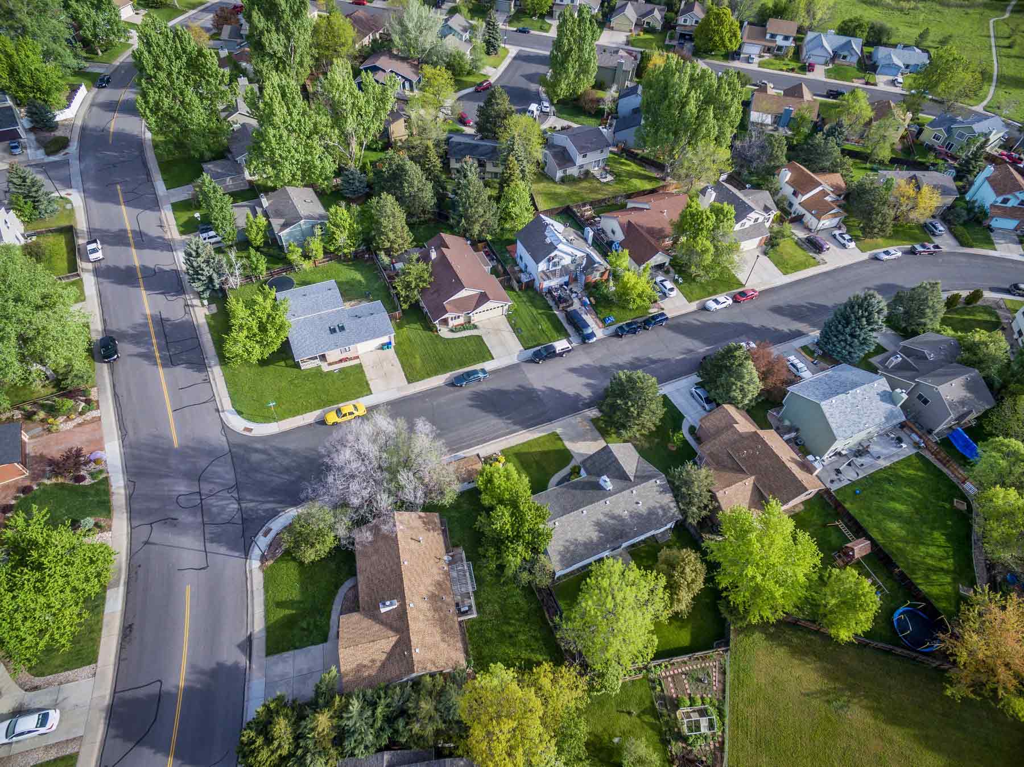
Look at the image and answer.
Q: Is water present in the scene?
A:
No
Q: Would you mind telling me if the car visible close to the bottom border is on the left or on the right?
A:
left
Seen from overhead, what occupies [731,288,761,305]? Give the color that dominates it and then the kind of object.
red car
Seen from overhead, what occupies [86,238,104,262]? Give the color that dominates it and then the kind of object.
white vehicle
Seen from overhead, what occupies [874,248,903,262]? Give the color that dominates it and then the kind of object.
white car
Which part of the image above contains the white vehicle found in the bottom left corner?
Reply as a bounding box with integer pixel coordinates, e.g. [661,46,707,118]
[0,704,64,750]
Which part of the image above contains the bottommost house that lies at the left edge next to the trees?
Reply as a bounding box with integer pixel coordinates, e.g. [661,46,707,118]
[0,421,46,470]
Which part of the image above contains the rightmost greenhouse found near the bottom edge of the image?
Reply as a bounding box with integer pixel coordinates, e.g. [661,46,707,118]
[676,705,716,741]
